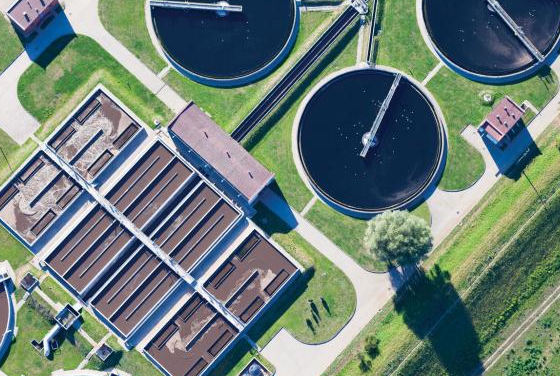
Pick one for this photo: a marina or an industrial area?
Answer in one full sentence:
It's an industrial area.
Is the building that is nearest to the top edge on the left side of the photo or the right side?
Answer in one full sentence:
It is on the left.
